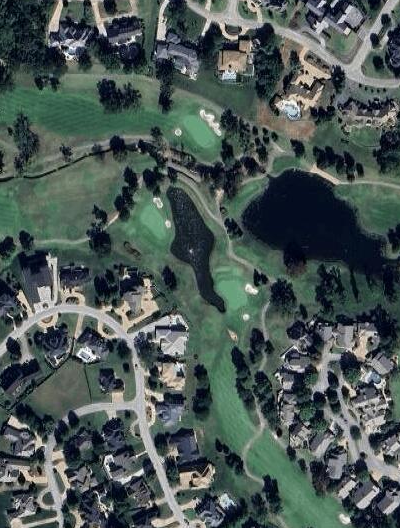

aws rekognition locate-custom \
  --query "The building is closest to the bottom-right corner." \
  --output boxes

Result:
[375,487,400,520]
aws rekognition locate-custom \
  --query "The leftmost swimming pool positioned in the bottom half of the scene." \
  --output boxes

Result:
[78,348,97,365]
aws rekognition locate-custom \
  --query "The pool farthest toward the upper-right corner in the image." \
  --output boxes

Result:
[280,99,302,122]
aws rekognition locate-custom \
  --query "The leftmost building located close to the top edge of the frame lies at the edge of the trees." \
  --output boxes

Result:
[50,15,93,50]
